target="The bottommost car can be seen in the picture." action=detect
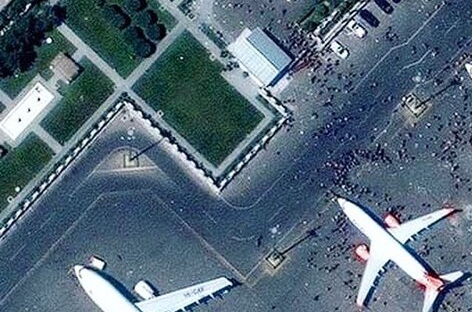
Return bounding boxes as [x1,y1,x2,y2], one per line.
[330,39,350,58]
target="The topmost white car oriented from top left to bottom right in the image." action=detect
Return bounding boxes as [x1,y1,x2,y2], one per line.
[348,19,366,36]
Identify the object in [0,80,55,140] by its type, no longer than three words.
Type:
building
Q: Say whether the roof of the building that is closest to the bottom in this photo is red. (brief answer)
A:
No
